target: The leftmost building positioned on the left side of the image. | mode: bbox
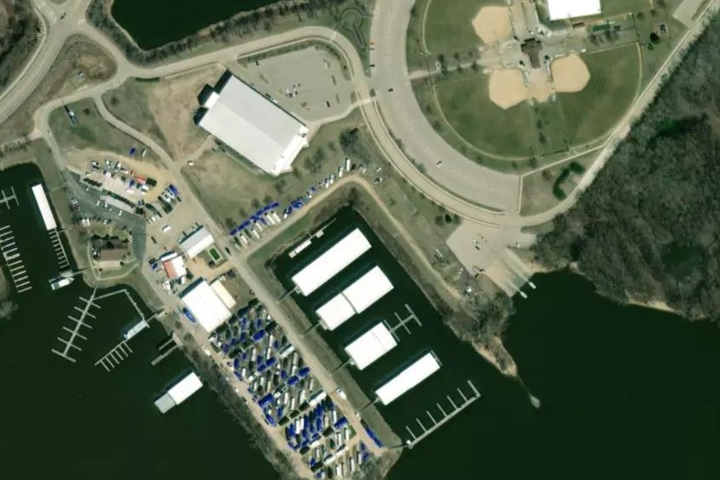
[92,241,129,261]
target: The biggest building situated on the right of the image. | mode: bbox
[523,40,543,68]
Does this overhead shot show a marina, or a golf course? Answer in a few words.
marina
